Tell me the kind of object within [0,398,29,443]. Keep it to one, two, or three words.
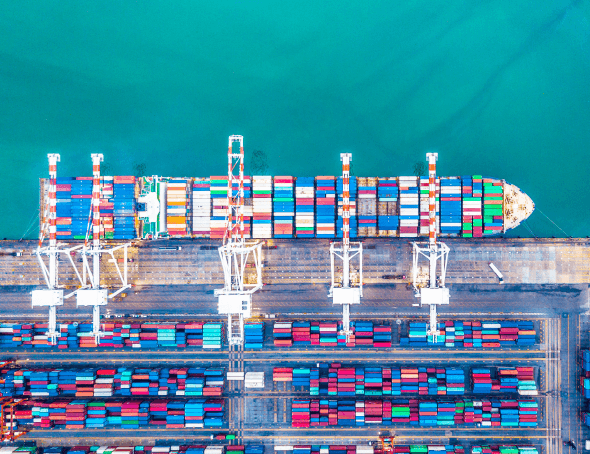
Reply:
container crane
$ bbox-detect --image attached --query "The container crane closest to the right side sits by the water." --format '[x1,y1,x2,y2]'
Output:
[406,152,451,345]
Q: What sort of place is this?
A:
port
